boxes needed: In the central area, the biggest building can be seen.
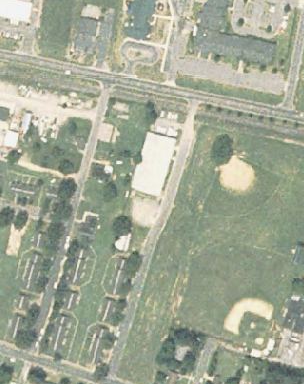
[132,131,176,198]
